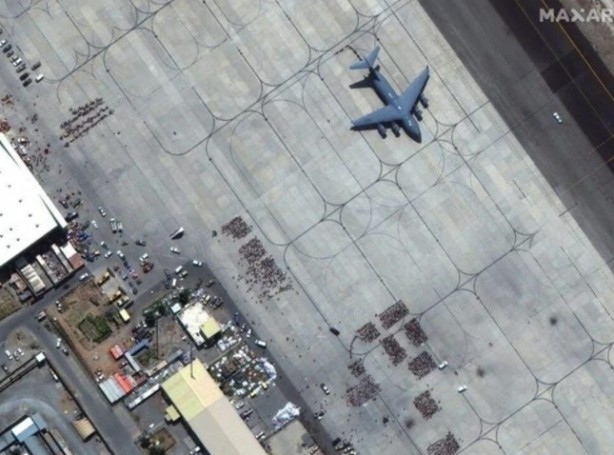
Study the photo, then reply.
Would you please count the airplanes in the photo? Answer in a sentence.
I count just 1 airplane.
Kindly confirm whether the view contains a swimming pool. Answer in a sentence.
No, there is no swimming pool in the image.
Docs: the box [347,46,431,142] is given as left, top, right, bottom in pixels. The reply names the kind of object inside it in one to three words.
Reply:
airplane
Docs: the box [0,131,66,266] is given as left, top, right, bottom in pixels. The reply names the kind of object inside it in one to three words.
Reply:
hangar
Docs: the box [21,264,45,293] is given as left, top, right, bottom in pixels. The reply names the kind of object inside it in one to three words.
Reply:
building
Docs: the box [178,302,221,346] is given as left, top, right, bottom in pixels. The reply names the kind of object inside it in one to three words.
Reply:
building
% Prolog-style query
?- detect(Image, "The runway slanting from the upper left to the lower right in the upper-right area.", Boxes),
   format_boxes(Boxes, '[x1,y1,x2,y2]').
[490,0,614,173]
